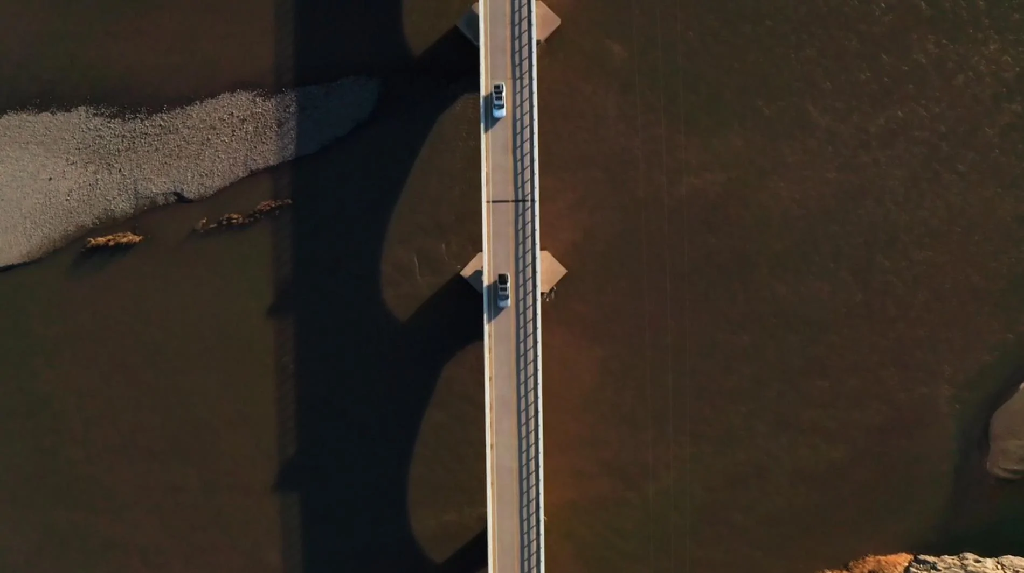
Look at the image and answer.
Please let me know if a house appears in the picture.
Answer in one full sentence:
No, no house is visible in the scene.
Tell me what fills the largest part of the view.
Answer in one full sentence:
The bulk of the photo consists of water.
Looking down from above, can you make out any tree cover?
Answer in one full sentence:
No, there is no tree cover in the image.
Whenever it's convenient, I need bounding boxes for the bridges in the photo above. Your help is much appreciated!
[454,0,566,573]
